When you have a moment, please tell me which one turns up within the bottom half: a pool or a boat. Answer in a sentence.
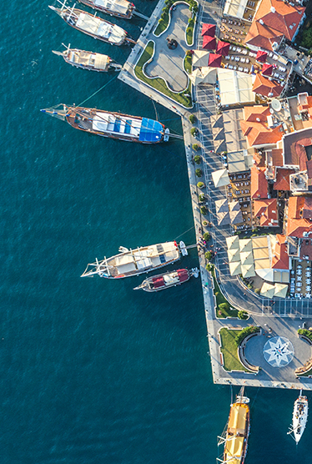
It is a boat that can be seen within the bottom half.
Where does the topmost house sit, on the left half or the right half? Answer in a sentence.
The topmost house sits on the right side.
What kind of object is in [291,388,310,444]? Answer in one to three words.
boat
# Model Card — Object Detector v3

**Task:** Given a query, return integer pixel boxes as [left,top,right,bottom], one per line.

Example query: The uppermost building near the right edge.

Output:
[243,0,307,54]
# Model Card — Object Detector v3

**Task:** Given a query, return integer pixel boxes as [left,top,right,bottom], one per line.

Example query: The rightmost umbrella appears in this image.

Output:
[274,283,288,298]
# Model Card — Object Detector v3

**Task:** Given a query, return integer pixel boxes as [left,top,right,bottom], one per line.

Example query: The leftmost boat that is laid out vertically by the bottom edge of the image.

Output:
[221,387,259,464]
